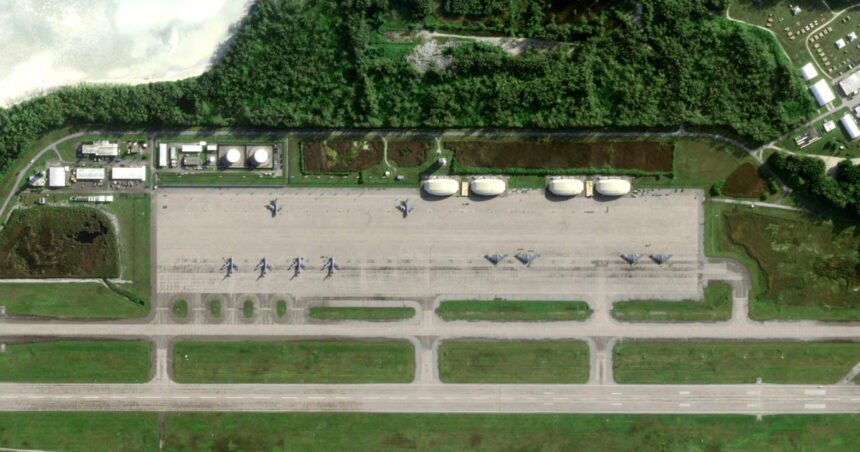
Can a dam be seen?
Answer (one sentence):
No, the frame has no dam in it.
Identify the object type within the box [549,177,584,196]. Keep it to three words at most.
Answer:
hangar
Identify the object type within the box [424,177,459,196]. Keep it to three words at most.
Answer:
hangar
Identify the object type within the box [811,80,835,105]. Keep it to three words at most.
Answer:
building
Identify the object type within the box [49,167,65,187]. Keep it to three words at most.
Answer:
building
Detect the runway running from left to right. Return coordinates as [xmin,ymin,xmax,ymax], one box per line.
[0,380,860,418]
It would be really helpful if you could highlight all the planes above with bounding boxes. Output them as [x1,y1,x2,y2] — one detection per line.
[223,257,240,276]
[485,254,508,263]
[621,254,644,263]
[256,258,274,276]
[397,199,416,217]
[323,257,341,276]
[290,258,308,276]
[515,254,538,263]
[267,197,285,217]
[650,254,673,263]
